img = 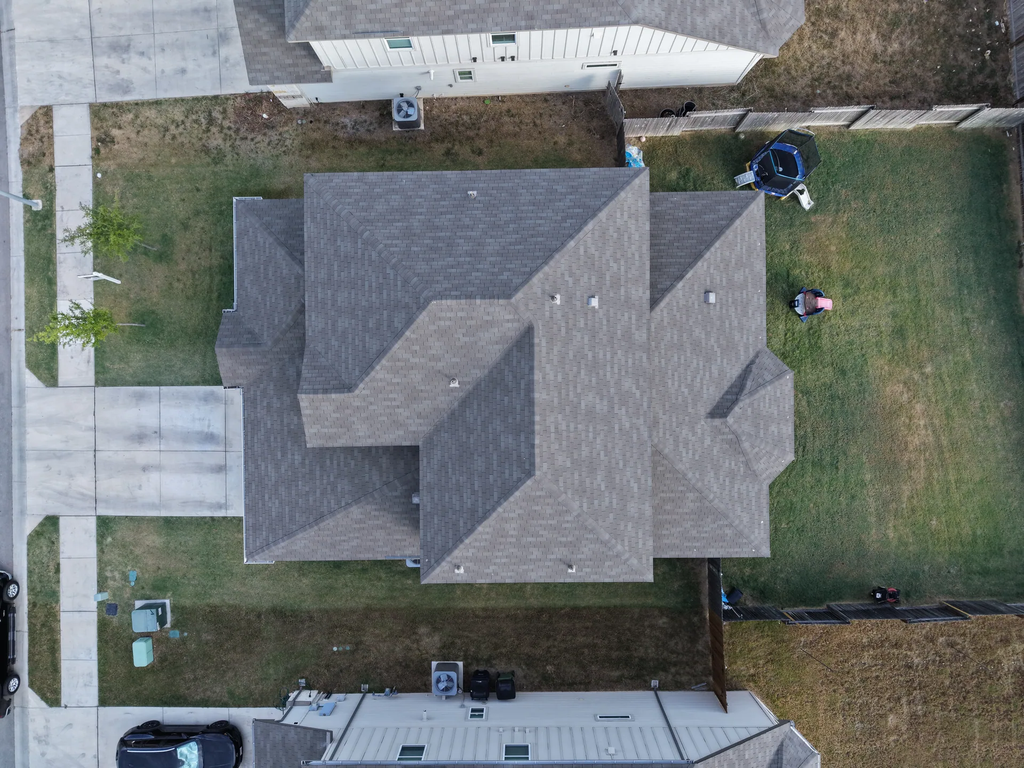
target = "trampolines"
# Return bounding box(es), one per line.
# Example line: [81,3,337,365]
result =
[731,125,822,220]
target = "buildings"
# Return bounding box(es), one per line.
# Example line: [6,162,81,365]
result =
[233,0,802,106]
[213,167,795,585]
[249,682,825,768]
